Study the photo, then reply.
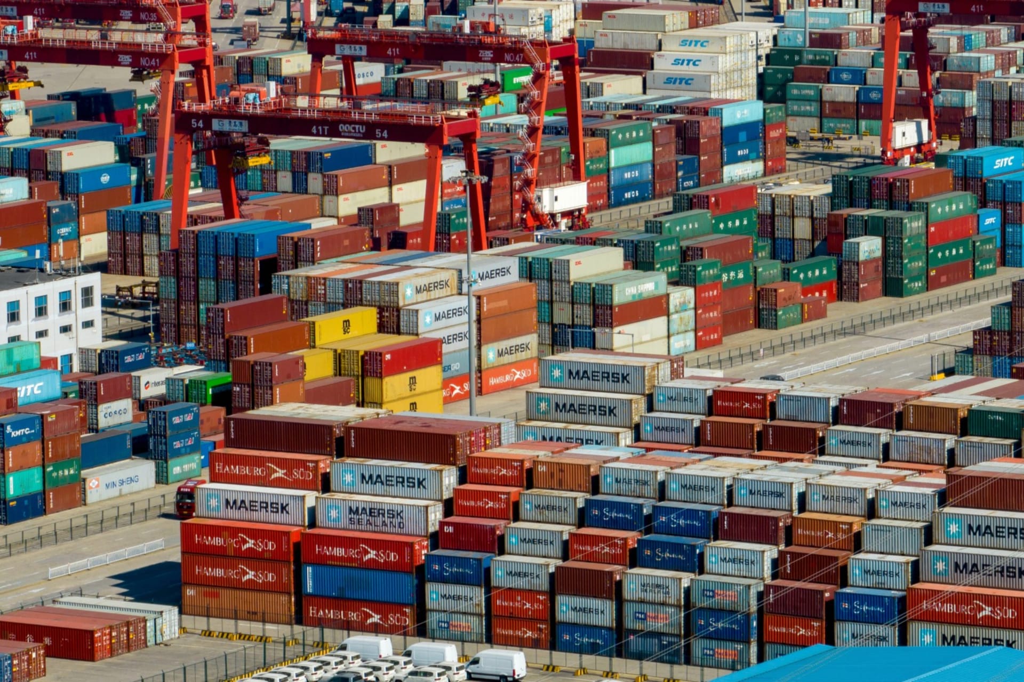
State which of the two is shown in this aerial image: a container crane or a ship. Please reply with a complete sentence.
Looking from above, you can make out a container crane.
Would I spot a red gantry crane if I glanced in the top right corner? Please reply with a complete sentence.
Yes, I can see a red gantry crane in the top right corner.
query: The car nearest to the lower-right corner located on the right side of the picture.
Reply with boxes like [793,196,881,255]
[756,367,789,382]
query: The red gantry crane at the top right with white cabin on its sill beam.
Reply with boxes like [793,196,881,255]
[873,0,1024,164]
